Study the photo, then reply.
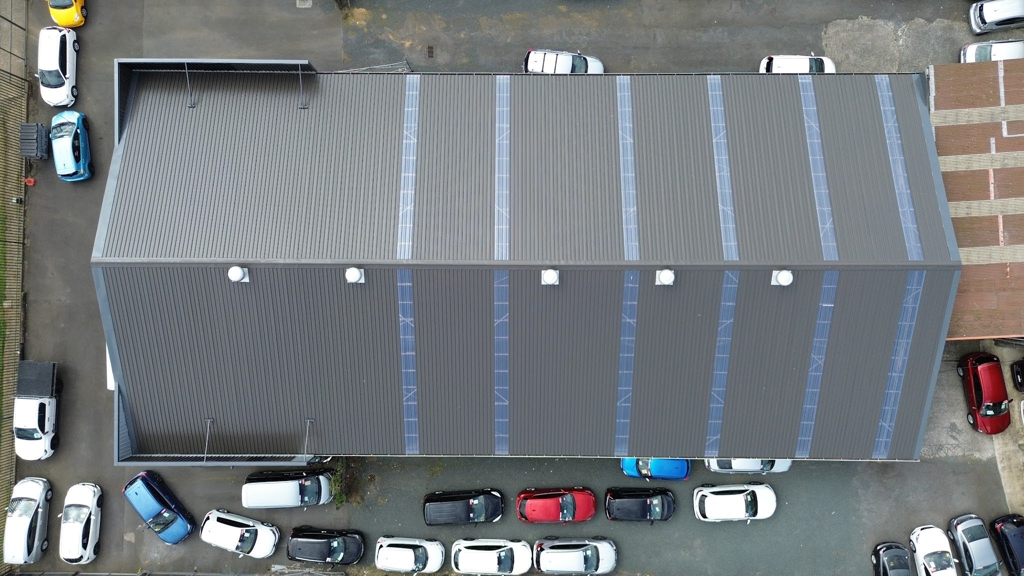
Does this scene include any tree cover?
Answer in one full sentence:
No, the scene doesn't show any tree cover.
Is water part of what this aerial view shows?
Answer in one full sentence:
No, water can't be seen anywhere here.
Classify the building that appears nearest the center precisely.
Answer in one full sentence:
In the photo, the building that appears nearest the center shows up as a warehouse.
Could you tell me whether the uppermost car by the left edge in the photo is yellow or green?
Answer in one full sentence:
The color of the uppermost car by the left edge is yellow.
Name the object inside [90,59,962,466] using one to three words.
warehouse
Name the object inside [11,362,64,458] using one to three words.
truck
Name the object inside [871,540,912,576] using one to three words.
car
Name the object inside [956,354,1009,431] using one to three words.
car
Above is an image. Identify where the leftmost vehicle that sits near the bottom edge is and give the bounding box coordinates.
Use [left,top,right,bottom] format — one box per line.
[5,477,54,563]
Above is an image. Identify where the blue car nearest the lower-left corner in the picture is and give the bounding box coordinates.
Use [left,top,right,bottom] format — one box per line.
[126,468,193,541]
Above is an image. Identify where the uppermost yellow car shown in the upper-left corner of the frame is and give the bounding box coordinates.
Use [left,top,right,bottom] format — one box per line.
[45,0,92,29]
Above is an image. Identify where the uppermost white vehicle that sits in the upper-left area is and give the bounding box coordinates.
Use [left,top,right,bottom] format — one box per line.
[35,30,83,107]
